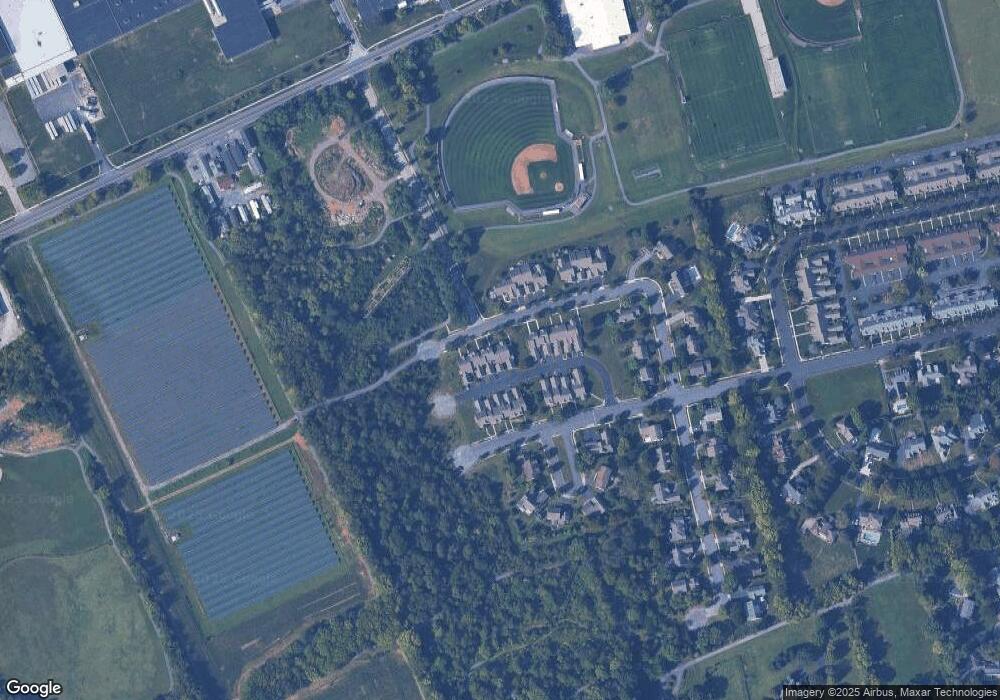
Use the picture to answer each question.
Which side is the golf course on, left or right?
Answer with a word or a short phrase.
left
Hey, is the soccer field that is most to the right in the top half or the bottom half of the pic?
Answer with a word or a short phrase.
top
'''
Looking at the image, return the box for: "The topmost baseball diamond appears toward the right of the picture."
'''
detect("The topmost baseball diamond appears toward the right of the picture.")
[776,0,861,45]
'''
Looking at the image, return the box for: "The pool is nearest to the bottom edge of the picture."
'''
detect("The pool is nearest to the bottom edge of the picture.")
[857,529,881,545]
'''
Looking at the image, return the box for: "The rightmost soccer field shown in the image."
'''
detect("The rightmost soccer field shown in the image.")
[857,0,957,137]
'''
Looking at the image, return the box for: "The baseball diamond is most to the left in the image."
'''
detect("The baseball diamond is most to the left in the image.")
[438,74,579,212]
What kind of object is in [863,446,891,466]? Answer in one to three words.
house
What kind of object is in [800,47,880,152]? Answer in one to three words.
soccer field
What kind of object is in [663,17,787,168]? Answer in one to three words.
soccer field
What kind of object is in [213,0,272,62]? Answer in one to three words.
building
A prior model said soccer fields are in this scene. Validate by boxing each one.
[800,47,880,152]
[663,17,787,168]
[857,0,957,137]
